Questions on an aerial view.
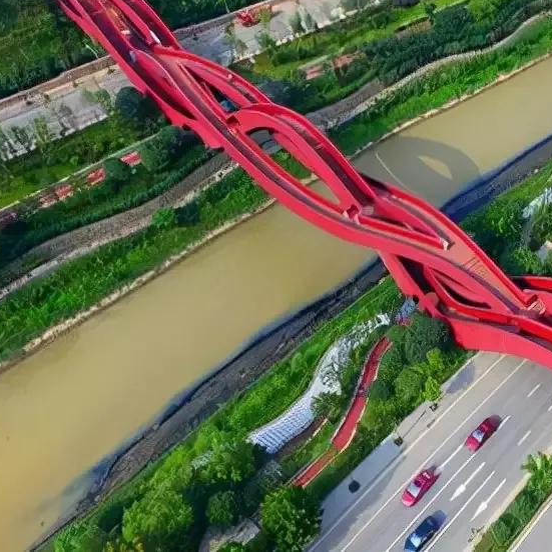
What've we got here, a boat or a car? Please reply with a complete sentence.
The one in the frame is a car.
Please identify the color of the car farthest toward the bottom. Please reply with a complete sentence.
The car farthest toward the bottom is blue.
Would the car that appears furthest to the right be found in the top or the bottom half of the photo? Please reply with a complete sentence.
The car that appears furthest to the right is in the bottom half of the image.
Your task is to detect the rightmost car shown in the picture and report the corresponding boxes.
[463,414,502,454]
